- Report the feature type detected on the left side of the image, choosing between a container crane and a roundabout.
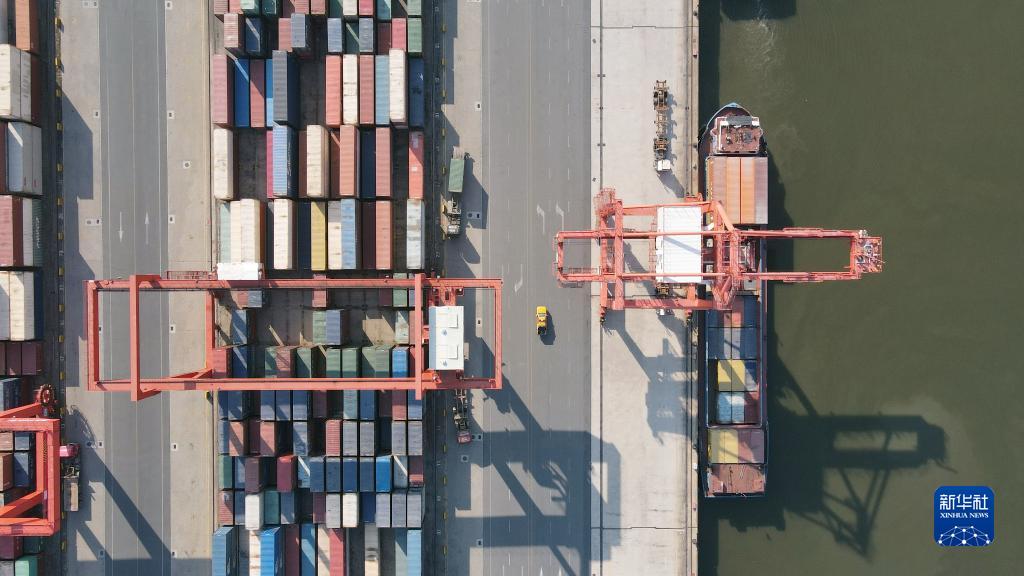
container crane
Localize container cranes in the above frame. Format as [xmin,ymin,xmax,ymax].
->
[0,386,59,535]
[86,262,502,400]
[553,190,885,322]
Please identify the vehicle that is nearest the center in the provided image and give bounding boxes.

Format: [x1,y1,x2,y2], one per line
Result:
[536,306,548,334]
